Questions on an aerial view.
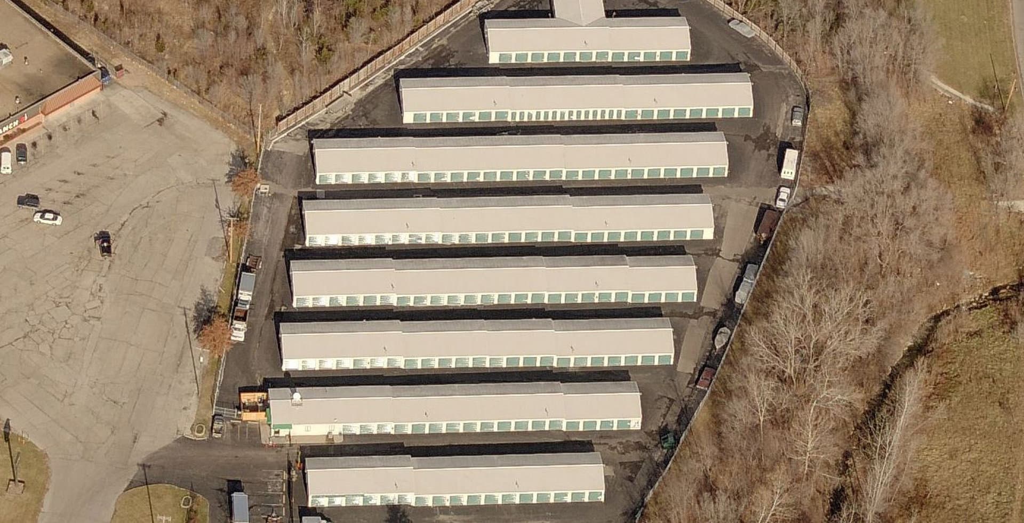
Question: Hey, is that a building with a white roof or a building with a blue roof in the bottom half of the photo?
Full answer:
Looking in the bottom half of the photo, you will find a building with a white roof.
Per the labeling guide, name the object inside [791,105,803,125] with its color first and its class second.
gray vehicle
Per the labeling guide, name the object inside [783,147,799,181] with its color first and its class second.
white camper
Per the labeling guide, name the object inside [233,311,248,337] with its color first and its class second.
white vehicle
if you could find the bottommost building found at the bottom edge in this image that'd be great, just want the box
[305,452,606,507]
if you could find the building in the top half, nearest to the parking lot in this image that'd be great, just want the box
[0,0,108,157]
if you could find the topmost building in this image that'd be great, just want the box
[485,0,691,63]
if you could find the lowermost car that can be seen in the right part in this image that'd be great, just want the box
[661,430,676,451]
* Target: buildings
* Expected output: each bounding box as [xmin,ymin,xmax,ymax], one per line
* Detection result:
[279,318,675,371]
[485,0,691,63]
[0,0,108,157]
[305,452,606,507]
[303,193,715,246]
[313,131,729,183]
[290,255,698,307]
[264,381,643,436]
[399,72,755,122]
